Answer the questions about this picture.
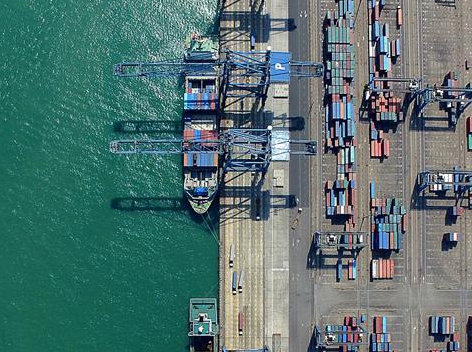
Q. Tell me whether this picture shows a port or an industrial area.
port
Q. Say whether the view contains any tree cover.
No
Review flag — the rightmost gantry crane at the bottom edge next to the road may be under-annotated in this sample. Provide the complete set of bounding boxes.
[312,320,366,343]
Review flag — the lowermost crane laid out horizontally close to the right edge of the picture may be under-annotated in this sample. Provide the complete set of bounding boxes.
[416,170,472,191]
